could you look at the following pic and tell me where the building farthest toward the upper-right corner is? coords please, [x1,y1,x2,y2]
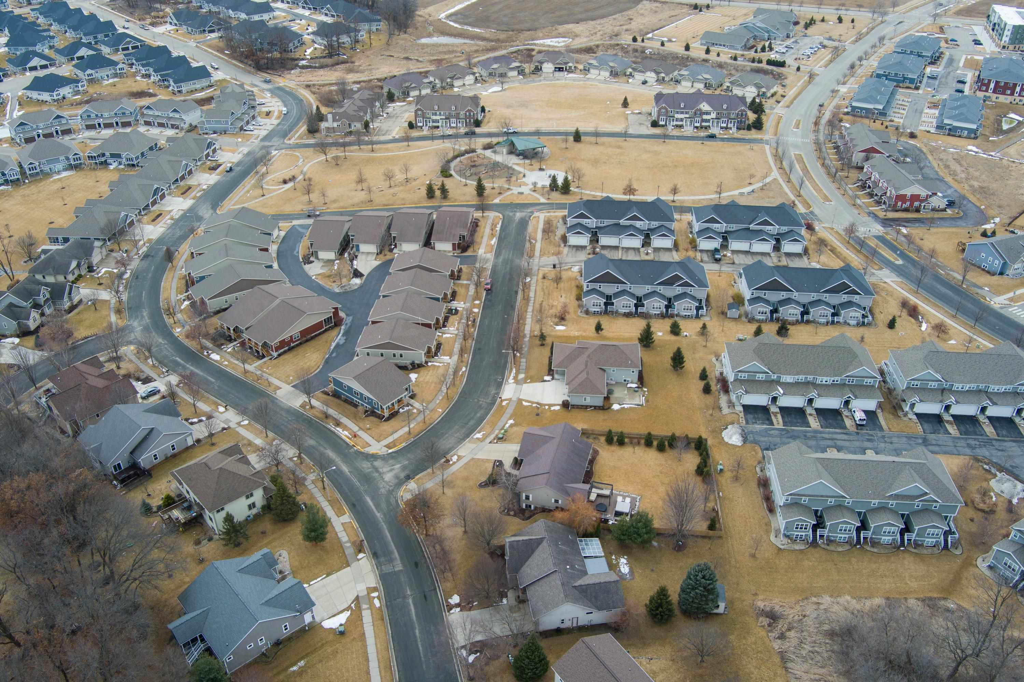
[969,2,1024,54]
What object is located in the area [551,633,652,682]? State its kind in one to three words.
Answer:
house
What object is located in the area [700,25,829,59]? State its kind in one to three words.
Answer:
building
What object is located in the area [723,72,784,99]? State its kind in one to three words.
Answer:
house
